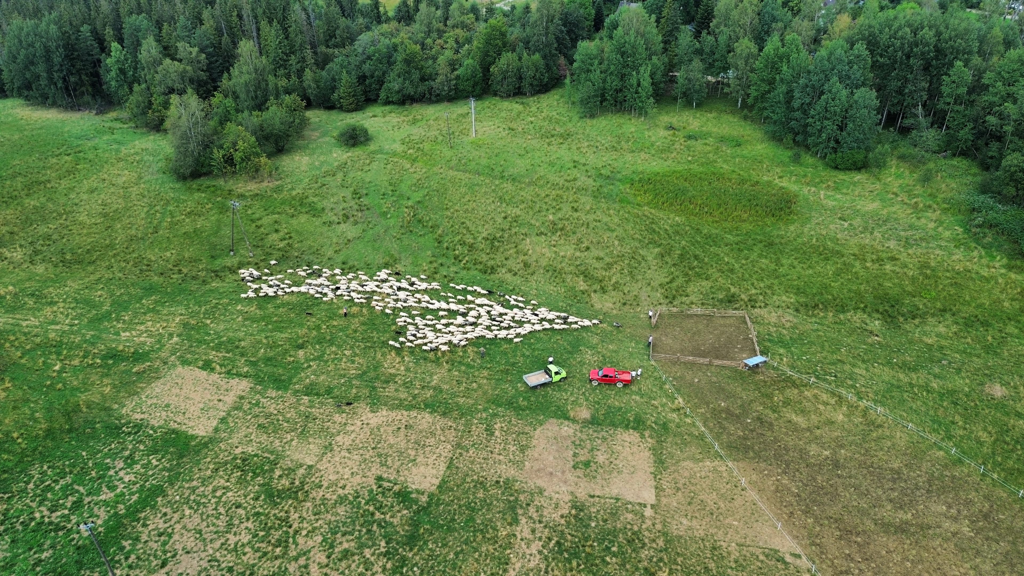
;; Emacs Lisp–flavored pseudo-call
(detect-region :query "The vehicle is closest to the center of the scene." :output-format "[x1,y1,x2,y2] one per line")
[520,364,567,389]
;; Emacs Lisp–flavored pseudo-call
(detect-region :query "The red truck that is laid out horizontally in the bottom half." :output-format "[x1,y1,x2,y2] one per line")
[587,367,630,388]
